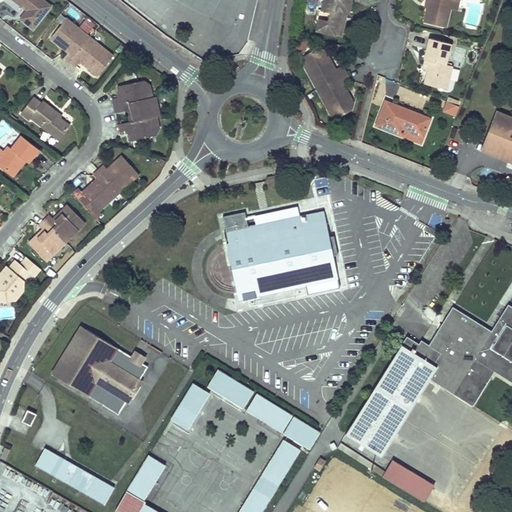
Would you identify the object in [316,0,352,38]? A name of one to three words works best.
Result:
house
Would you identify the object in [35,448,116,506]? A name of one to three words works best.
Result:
shed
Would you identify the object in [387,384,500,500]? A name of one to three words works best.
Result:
sports court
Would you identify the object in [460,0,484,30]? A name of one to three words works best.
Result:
swimming pool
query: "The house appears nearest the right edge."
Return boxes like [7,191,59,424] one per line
[482,110,512,162]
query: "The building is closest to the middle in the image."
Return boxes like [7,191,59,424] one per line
[224,207,340,306]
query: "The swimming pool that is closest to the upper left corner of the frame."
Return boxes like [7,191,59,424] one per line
[62,4,85,25]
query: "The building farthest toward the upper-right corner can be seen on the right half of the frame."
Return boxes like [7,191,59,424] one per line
[424,0,462,28]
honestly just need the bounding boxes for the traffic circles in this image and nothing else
[186,58,310,171]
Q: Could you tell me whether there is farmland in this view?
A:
No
